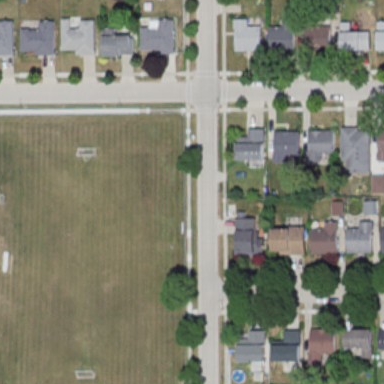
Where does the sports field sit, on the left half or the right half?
left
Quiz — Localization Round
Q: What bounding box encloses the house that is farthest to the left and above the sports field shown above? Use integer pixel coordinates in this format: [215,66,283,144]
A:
[0,22,15,56]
